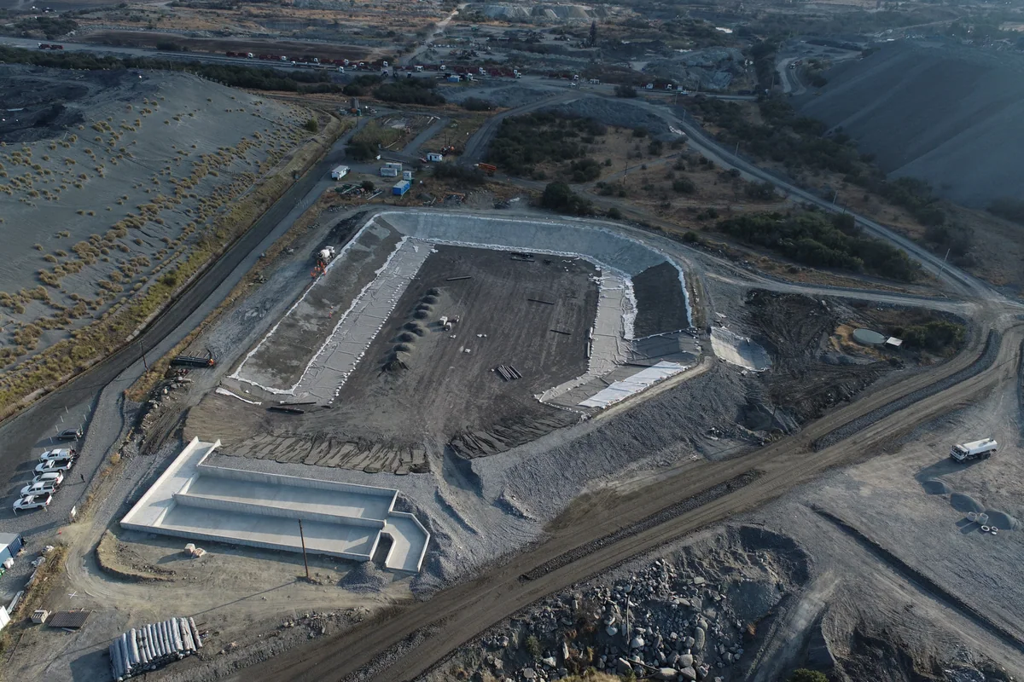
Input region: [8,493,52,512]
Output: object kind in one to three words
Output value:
vehicle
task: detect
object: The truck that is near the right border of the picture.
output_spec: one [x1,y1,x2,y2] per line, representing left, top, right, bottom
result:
[950,437,1002,464]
